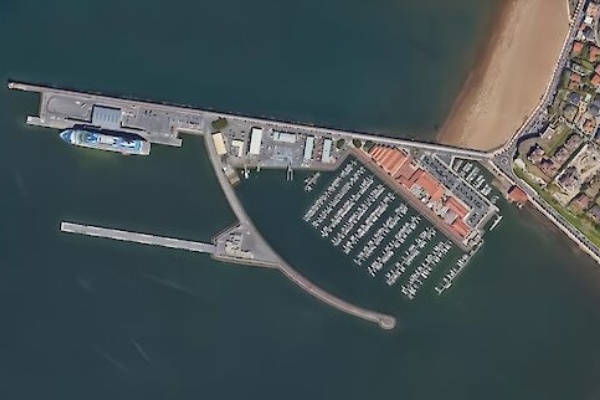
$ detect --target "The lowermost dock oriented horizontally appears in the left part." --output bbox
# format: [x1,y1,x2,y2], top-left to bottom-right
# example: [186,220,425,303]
[61,223,219,253]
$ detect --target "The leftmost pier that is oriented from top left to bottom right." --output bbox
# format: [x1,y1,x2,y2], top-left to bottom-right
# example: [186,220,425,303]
[204,133,396,330]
